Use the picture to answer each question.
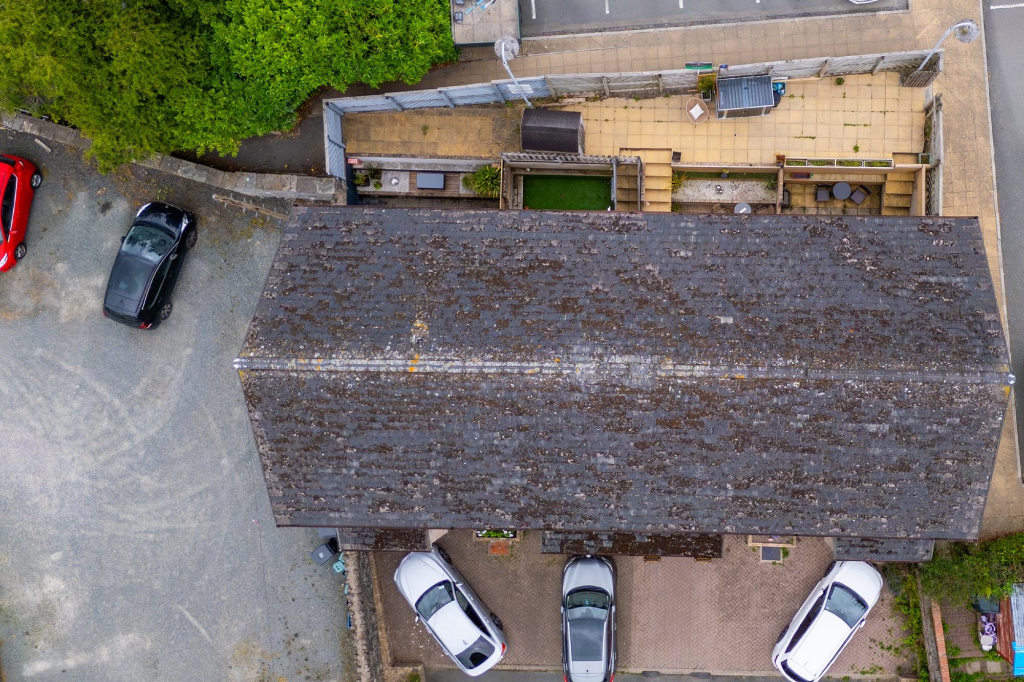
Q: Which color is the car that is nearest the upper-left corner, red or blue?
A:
red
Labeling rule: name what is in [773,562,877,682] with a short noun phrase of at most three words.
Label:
car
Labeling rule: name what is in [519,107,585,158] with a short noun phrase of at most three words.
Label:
shed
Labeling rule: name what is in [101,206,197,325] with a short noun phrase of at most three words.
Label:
car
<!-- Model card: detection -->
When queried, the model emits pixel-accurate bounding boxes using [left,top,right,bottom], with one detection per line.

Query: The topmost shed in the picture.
[717,74,774,117]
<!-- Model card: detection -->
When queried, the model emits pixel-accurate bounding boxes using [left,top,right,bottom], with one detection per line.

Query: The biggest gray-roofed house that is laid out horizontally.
[232,202,1019,564]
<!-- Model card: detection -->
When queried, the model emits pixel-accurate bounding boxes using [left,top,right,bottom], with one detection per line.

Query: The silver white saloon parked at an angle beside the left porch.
[402,550,506,679]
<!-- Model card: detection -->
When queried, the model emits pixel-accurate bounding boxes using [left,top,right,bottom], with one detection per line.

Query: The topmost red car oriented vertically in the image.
[0,153,49,269]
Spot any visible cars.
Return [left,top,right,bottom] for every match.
[101,206,197,325]
[554,557,620,682]
[0,153,49,269]
[773,562,877,682]
[402,550,506,679]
